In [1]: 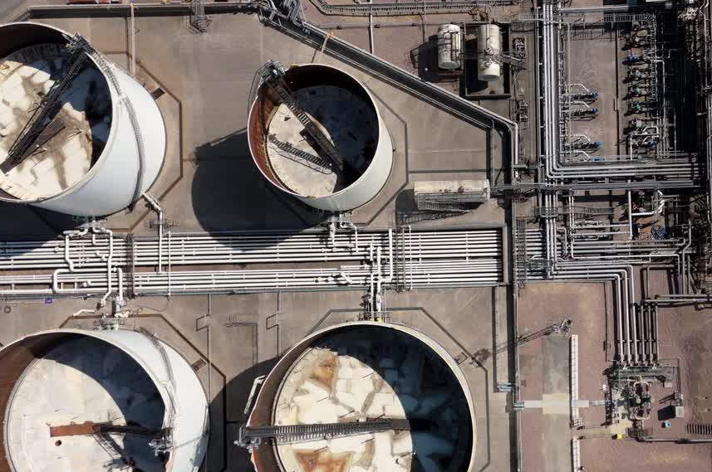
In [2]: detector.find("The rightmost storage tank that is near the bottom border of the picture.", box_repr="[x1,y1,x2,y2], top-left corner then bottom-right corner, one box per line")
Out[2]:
[235,320,477,472]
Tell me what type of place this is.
industrial area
